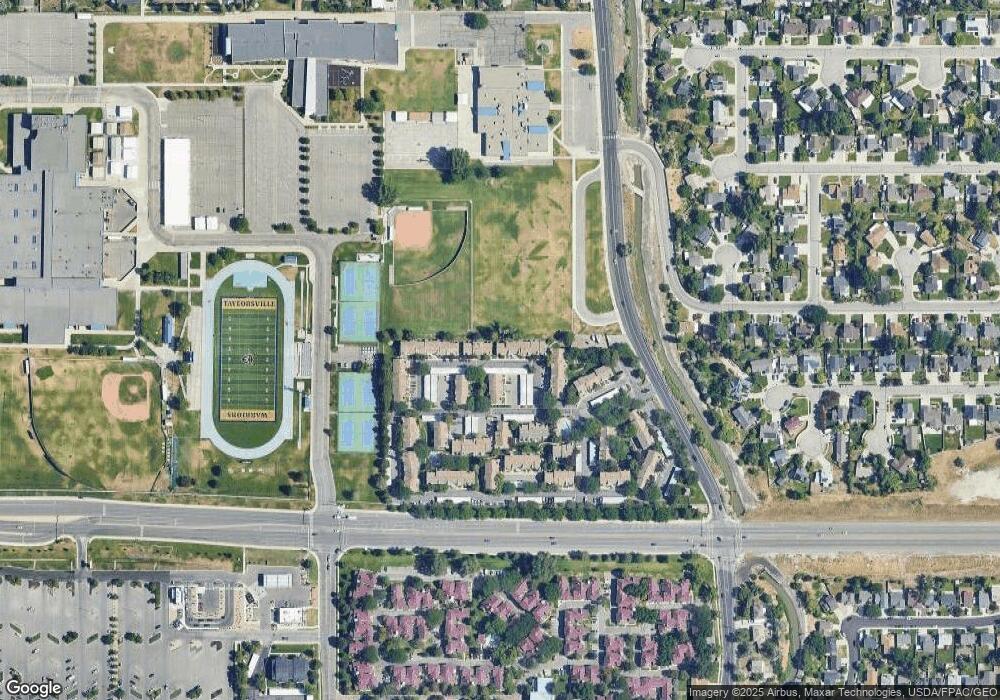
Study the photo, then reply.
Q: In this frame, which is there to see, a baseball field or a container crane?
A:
baseball field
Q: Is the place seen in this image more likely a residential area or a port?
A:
residential area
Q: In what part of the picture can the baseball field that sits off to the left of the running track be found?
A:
left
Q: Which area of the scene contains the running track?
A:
left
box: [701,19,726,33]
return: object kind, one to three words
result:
house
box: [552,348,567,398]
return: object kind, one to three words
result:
building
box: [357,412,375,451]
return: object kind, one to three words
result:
tennis court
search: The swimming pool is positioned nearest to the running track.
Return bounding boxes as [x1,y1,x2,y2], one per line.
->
[429,452,444,468]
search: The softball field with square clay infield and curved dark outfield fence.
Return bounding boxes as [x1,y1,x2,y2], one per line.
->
[392,210,466,284]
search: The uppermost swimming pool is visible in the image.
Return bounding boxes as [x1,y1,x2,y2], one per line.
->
[557,418,573,440]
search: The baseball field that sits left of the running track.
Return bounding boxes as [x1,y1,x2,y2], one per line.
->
[103,372,153,421]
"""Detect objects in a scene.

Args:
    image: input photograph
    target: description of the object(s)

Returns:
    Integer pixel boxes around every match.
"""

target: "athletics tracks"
[202,261,296,459]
